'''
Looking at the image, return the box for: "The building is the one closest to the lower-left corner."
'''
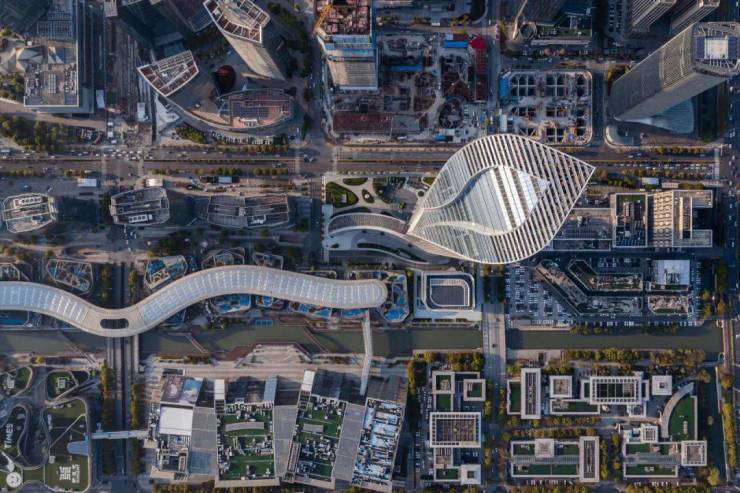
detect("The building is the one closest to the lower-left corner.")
[67,437,92,456]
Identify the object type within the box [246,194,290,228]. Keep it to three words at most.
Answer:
building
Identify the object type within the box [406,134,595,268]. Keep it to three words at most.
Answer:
building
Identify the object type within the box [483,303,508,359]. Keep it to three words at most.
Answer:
bridge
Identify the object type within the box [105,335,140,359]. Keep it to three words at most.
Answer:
bridge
